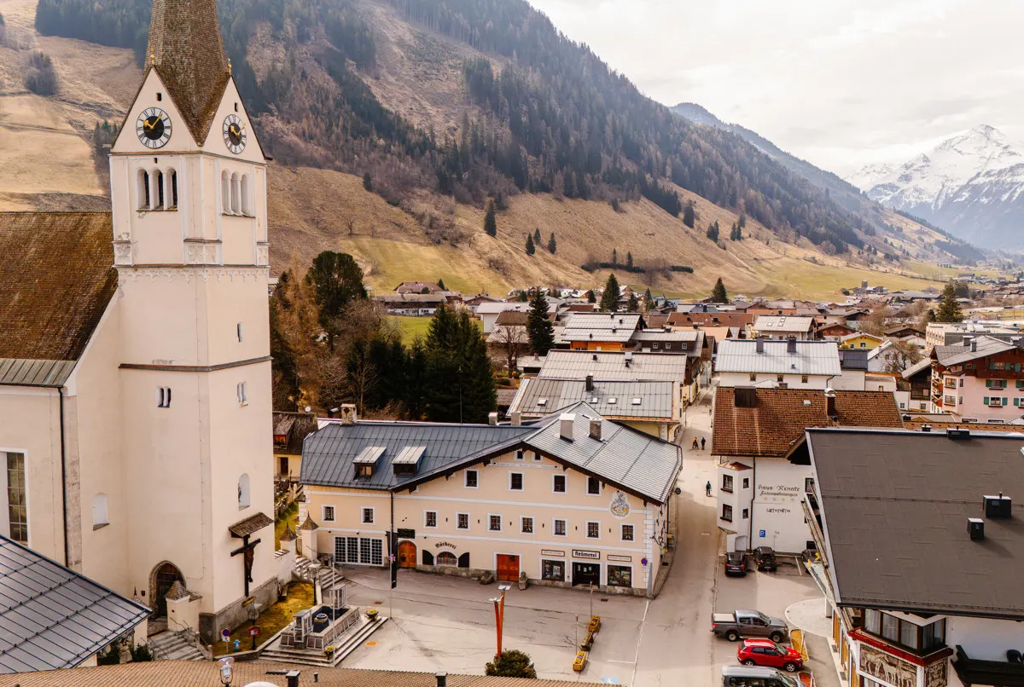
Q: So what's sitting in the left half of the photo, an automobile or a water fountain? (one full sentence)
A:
Looking in the left half of the photo, you will find a water fountain.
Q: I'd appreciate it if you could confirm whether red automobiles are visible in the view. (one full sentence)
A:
Yes, a red automobile can be made out from above.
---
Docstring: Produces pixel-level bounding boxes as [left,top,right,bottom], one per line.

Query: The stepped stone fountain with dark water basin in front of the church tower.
[259,576,387,666]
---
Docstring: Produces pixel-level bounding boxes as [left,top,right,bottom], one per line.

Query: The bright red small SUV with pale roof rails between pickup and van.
[737,635,804,673]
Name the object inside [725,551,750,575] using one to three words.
car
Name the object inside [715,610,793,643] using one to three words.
truck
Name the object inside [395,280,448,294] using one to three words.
house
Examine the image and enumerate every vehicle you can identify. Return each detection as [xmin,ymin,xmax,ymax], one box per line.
[737,635,804,673]
[725,551,750,575]
[717,668,784,687]
[715,610,793,643]
[754,547,778,571]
